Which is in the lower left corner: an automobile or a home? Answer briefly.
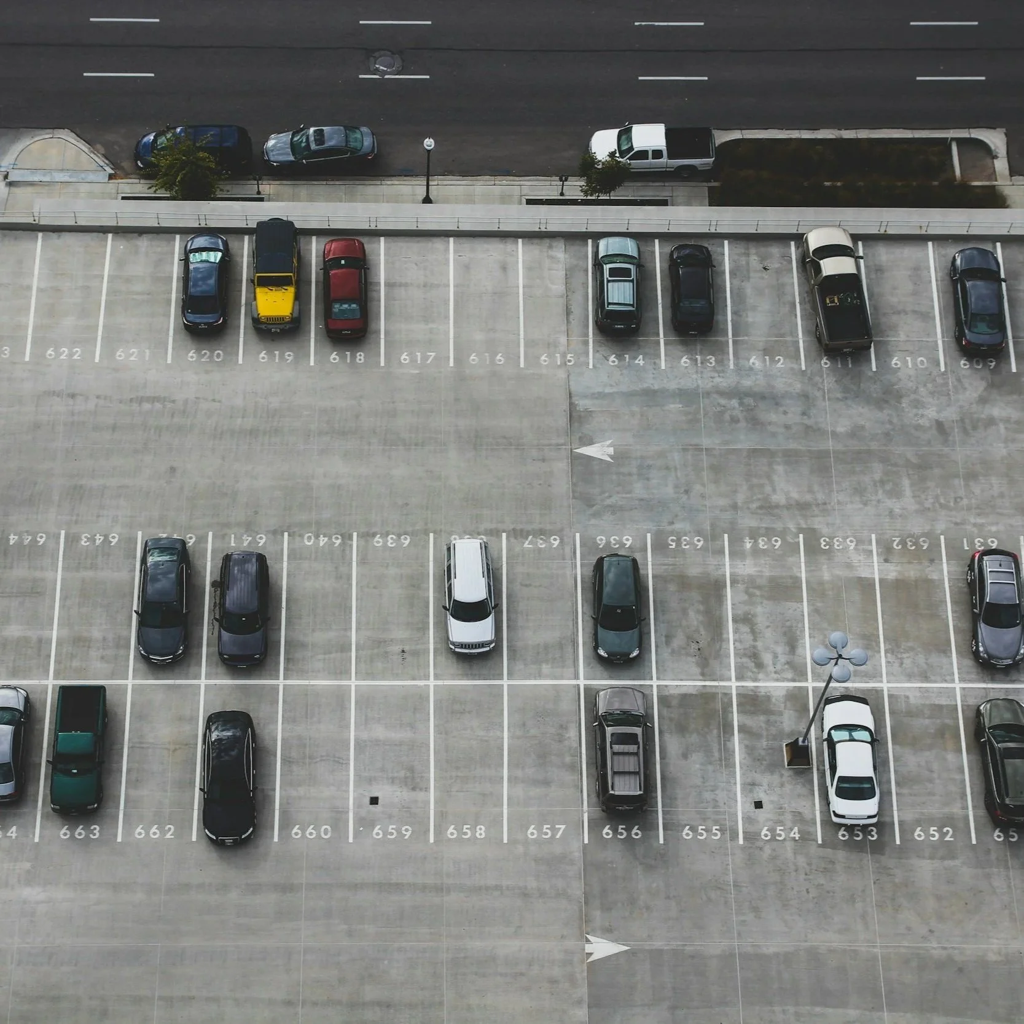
automobile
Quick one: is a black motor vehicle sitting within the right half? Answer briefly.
Yes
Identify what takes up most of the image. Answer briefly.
paved ground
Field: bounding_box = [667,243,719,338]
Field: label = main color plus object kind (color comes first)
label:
black car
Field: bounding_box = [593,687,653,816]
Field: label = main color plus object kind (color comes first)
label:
gray car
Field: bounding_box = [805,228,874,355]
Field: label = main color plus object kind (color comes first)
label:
black truck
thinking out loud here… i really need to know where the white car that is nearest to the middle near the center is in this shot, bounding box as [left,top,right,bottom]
[441,544,501,657]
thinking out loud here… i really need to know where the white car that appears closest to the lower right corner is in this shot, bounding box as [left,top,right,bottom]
[822,694,881,833]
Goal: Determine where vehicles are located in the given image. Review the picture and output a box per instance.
[593,687,653,816]
[587,122,716,178]
[212,554,273,670]
[805,228,874,355]
[590,556,647,666]
[441,544,501,657]
[667,243,719,338]
[177,233,232,336]
[593,236,646,339]
[822,694,881,833]
[0,685,30,805]
[975,698,1024,828]
[966,549,1024,670]
[319,238,371,342]
[46,686,108,817]
[132,537,192,666]
[263,124,378,179]
[197,710,260,847]
[952,247,1008,359]
[248,218,302,332]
